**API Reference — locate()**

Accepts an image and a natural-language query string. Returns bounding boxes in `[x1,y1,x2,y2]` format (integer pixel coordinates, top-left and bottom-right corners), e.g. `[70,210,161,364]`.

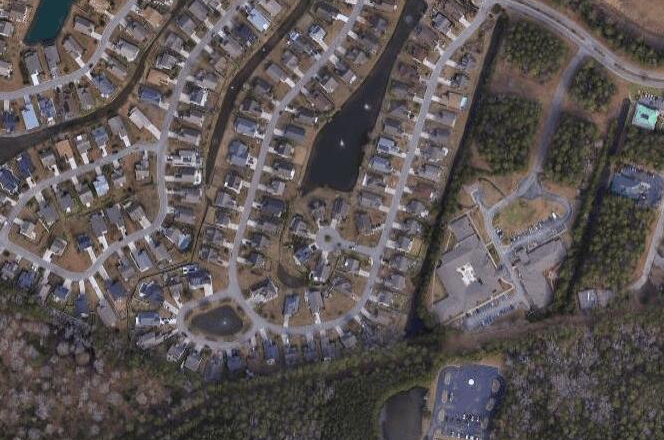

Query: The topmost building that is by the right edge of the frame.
[632,101,659,131]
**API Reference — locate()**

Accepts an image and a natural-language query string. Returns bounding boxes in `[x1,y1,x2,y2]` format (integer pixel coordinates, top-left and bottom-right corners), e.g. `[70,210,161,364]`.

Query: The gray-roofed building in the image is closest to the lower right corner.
[512,236,566,308]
